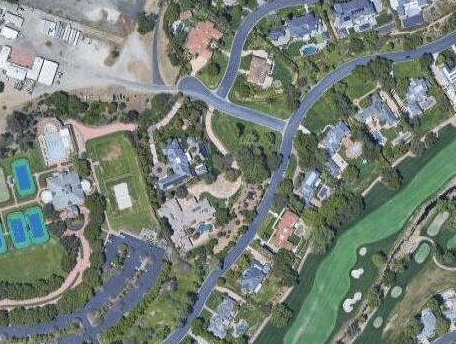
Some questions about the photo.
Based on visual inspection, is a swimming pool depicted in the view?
Yes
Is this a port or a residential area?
residential area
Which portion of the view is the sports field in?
left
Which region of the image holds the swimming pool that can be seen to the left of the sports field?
left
